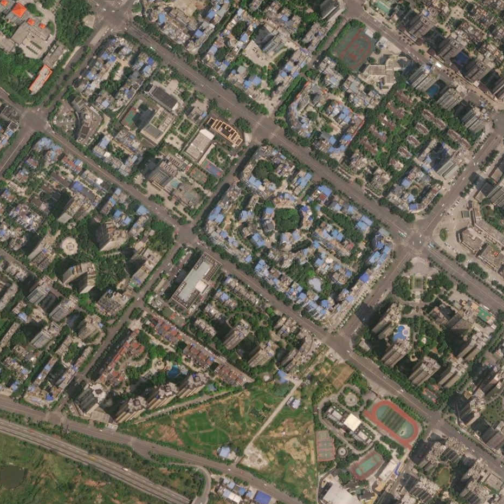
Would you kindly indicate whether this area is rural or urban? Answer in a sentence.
It looks urban.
